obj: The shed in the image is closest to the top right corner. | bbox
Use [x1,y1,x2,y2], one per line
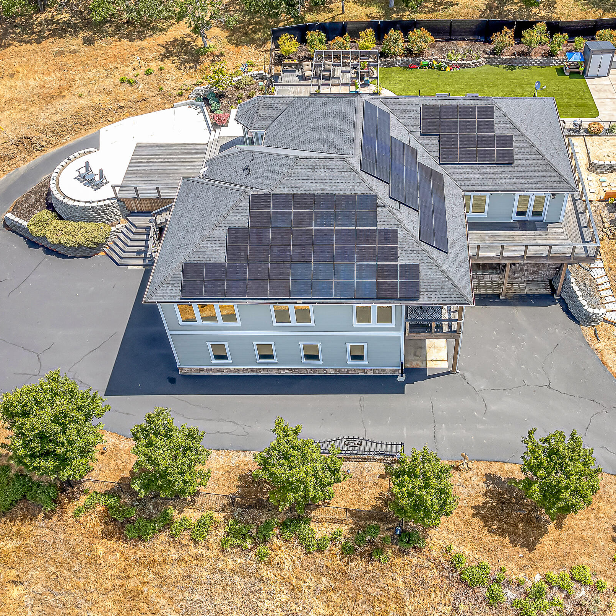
[587,44,616,78]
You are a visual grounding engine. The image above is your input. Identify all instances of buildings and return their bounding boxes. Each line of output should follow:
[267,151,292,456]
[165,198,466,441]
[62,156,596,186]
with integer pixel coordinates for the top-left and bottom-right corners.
[587,44,616,78]
[142,86,579,384]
